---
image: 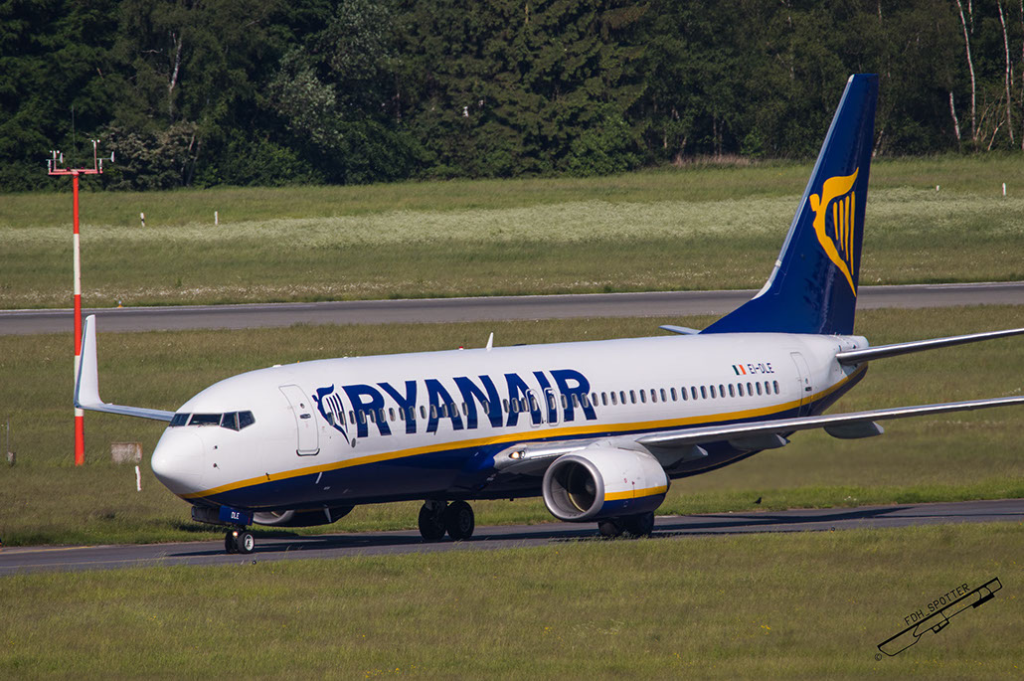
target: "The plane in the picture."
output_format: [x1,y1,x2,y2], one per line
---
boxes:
[69,72,1024,554]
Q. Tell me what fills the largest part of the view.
grass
